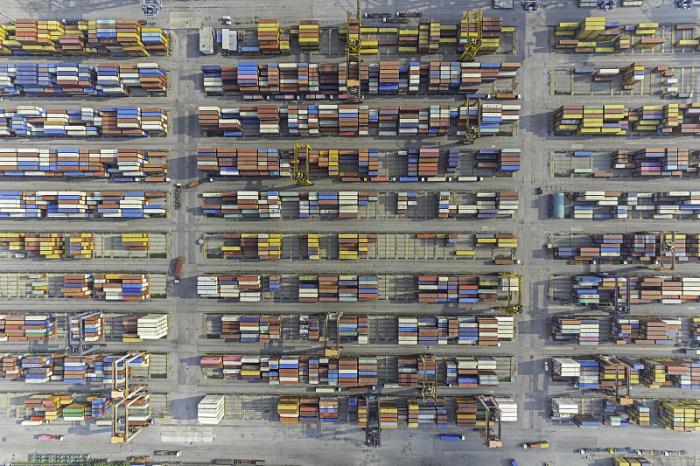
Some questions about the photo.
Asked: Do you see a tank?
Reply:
No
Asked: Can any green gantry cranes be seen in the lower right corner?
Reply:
No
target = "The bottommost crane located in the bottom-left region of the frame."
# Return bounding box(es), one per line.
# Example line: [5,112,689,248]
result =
[111,392,146,446]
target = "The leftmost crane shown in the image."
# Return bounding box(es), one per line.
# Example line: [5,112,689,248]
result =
[68,309,105,357]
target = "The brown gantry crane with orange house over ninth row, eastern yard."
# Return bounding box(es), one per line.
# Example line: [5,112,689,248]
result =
[594,354,632,407]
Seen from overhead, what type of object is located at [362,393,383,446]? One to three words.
container crane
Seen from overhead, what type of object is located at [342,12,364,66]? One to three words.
container crane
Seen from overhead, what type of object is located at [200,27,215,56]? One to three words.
building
